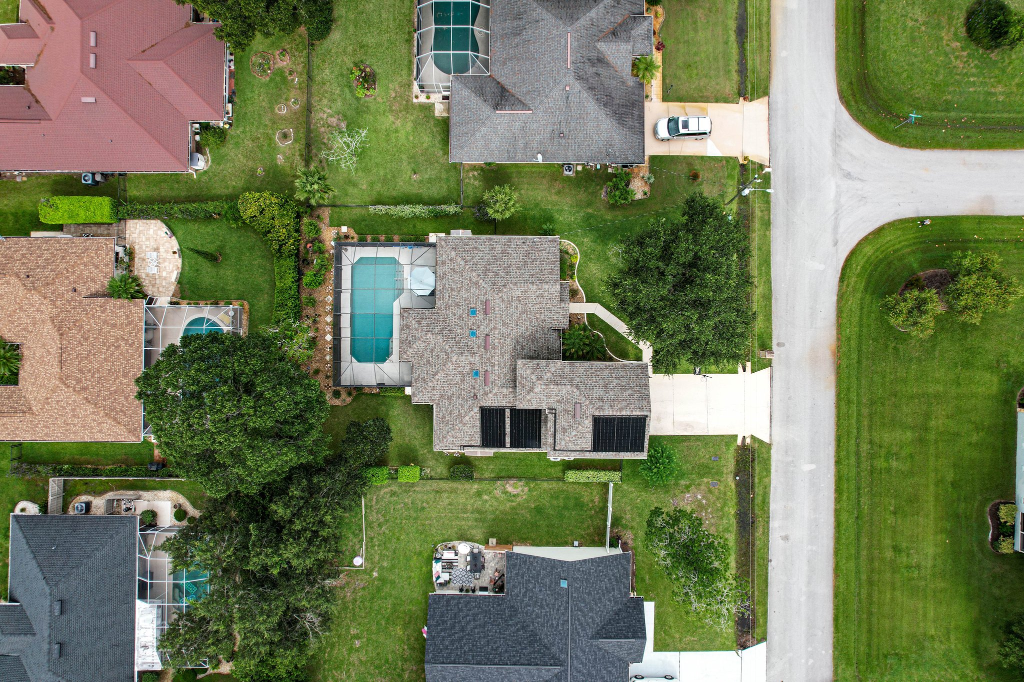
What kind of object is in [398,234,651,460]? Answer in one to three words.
house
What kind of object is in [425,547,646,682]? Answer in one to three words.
house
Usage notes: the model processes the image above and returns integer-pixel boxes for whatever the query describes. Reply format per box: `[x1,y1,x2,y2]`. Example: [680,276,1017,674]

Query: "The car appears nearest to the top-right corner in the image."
[655,113,715,144]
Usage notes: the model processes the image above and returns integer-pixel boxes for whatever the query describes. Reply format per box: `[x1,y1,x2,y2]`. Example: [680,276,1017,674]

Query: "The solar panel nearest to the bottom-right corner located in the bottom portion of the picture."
[592,416,647,452]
